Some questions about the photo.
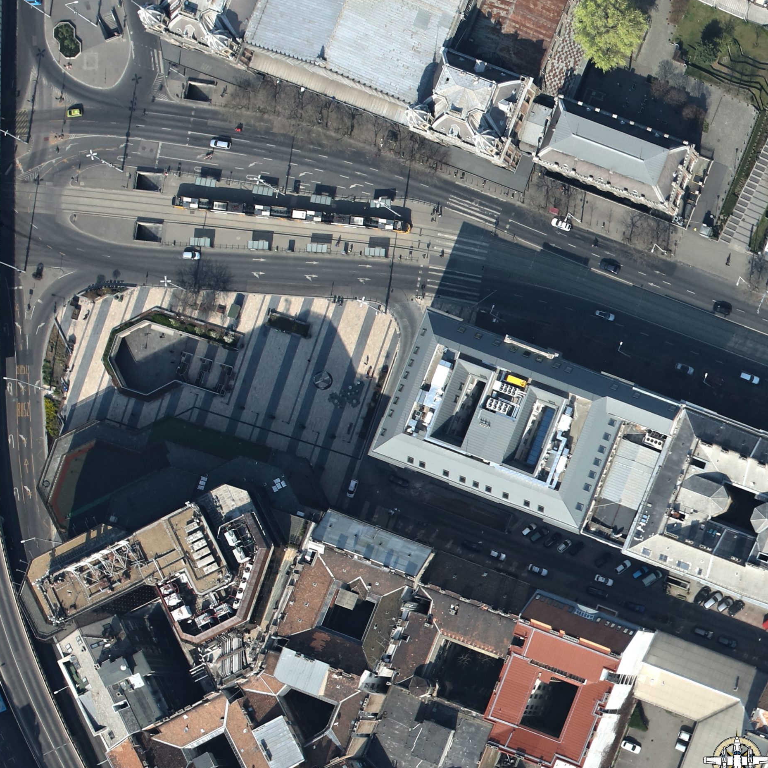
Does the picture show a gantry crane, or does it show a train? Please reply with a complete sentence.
The one in the frame is a train.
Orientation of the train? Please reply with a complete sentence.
What the image shows is the train lying horizontally.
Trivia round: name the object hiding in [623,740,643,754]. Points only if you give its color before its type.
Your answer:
white vehicle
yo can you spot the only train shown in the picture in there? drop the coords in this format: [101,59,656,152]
[174,196,416,235]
